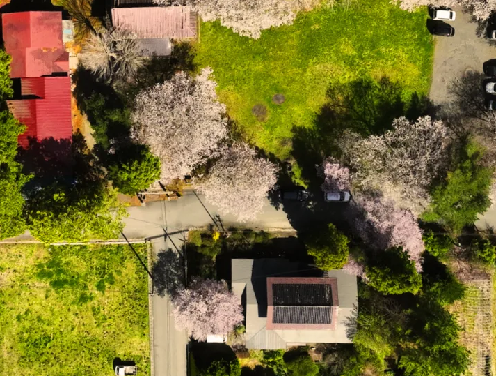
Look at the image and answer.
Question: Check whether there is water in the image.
No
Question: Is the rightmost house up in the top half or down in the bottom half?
bottom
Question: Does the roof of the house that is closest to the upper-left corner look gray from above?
No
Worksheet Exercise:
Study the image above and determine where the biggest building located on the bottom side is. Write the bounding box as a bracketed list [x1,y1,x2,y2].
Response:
[231,257,358,350]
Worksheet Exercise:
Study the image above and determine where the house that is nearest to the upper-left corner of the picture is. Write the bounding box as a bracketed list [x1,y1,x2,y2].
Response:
[2,12,77,77]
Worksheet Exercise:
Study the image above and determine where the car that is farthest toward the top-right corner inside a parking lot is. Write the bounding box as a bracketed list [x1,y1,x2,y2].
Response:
[481,25,496,38]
